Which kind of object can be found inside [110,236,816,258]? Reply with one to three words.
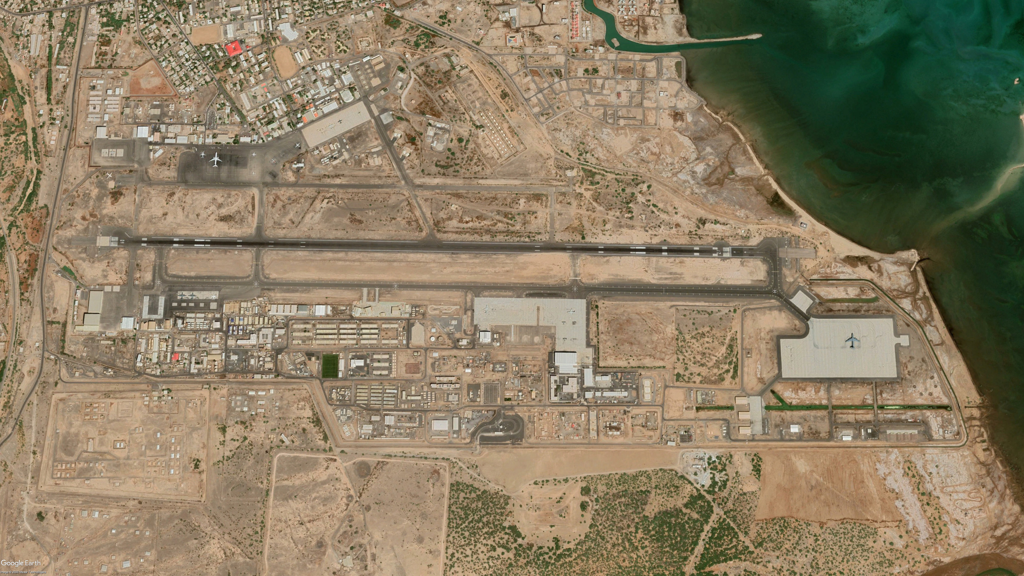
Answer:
runway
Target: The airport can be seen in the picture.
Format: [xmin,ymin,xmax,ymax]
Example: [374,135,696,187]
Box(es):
[71,65,910,381]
